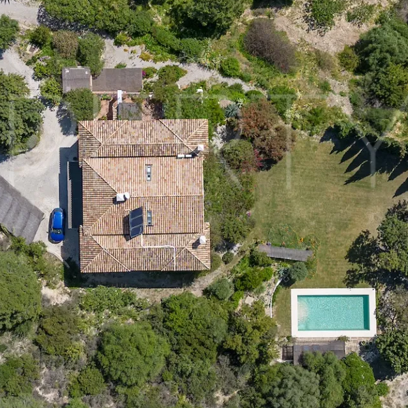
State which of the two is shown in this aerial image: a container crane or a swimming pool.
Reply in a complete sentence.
The one in the frame is a swimming pool.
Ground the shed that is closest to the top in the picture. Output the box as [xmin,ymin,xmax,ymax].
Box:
[62,67,154,103]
